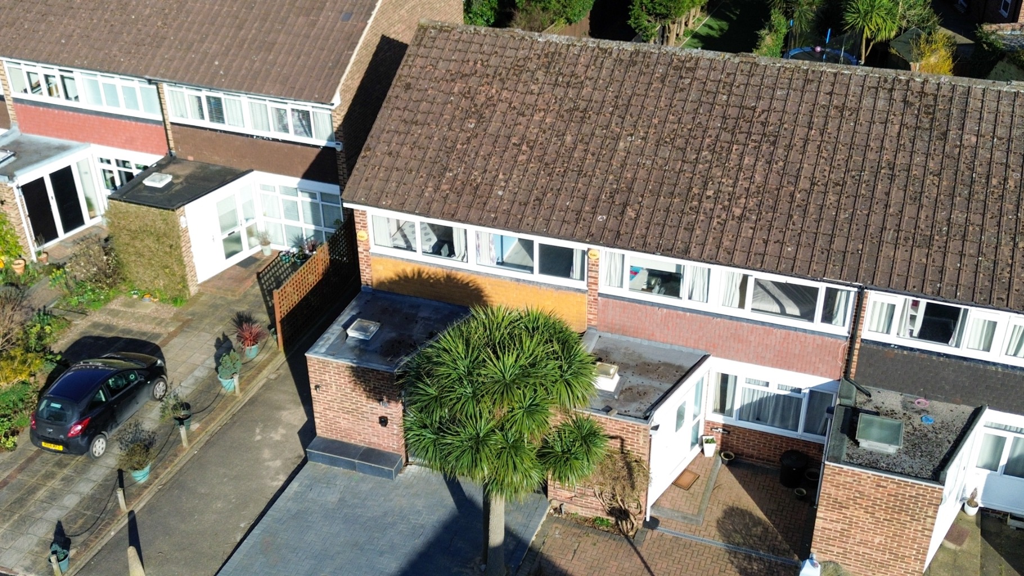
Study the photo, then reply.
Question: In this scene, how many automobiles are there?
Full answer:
Just 1 automobile appears in this view.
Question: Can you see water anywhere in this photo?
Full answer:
No, the picture contains no water.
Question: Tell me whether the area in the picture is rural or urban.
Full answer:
The area is urban.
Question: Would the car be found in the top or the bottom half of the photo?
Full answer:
You can find the car in the bottom half.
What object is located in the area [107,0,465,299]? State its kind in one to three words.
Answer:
house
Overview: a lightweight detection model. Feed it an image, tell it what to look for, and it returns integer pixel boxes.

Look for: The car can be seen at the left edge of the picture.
[27,355,169,465]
